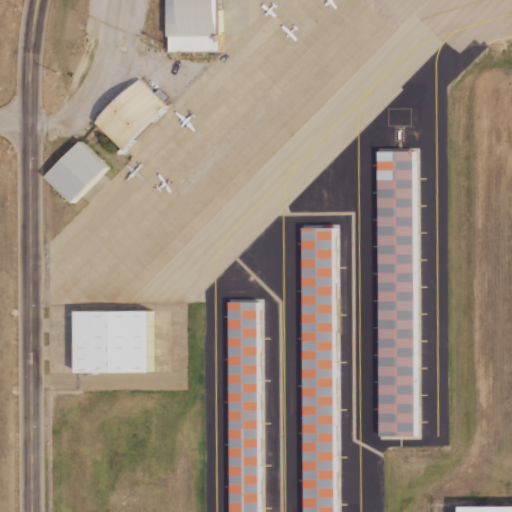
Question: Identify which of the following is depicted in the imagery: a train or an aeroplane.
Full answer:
The image shows an aeroplane.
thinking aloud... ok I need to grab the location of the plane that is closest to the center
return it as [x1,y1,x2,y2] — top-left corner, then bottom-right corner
[158,172,171,194]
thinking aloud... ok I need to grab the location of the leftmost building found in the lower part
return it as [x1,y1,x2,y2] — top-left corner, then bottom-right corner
[72,311,155,373]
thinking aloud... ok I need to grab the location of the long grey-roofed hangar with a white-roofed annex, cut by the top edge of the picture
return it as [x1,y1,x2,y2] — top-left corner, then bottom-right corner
[166,0,227,53]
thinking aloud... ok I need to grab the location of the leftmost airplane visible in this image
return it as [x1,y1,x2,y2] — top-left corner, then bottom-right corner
[127,162,143,181]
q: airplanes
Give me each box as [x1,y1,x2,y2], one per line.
[158,172,171,194]
[176,110,195,134]
[327,0,336,9]
[282,24,298,42]
[262,2,277,18]
[127,162,143,181]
